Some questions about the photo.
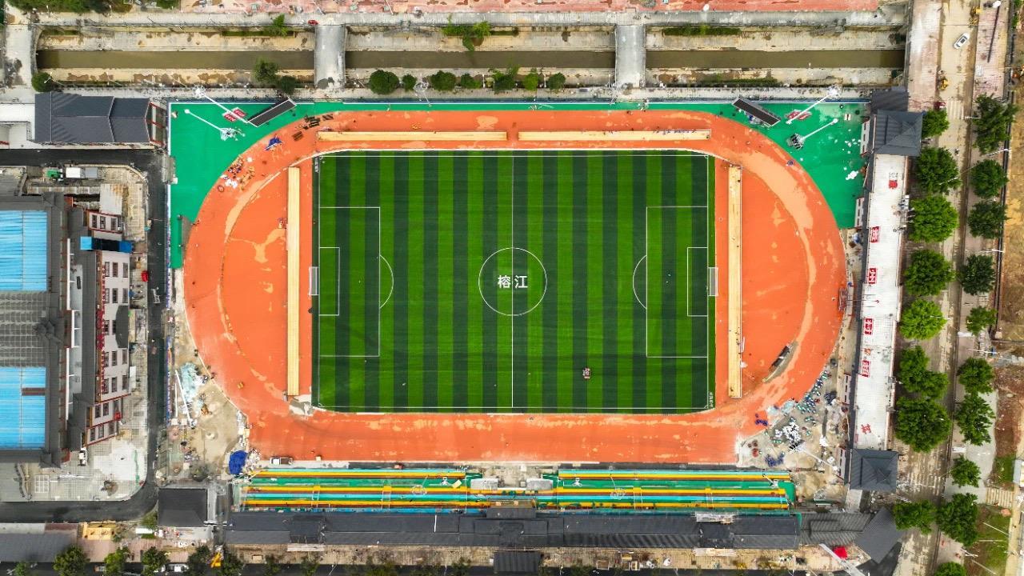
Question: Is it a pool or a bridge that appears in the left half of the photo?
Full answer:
The one visible in the left half of the photo is a bridge.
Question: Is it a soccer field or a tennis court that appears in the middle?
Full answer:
There is a soccer field in the middle.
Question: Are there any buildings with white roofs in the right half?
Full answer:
Yes, there is a building with a white roof in the right half.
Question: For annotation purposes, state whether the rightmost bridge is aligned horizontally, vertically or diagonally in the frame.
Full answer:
From this overhead view, the rightmost bridge appears to run vertically.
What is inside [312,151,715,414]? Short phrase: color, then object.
green soccer field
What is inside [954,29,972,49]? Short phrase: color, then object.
white car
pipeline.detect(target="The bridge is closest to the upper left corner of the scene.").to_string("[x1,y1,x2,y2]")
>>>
[1,21,41,93]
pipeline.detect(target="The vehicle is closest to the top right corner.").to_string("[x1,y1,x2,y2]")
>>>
[970,2,988,26]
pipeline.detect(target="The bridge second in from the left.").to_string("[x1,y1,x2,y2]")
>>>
[312,21,349,93]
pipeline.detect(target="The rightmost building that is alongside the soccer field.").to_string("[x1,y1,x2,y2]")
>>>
[837,108,912,489]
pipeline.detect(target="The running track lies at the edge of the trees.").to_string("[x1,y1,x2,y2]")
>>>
[182,110,848,463]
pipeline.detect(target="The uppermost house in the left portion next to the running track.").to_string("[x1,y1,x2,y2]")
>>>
[35,91,174,143]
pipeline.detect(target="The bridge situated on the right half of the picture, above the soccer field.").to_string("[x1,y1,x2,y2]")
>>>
[613,21,647,93]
